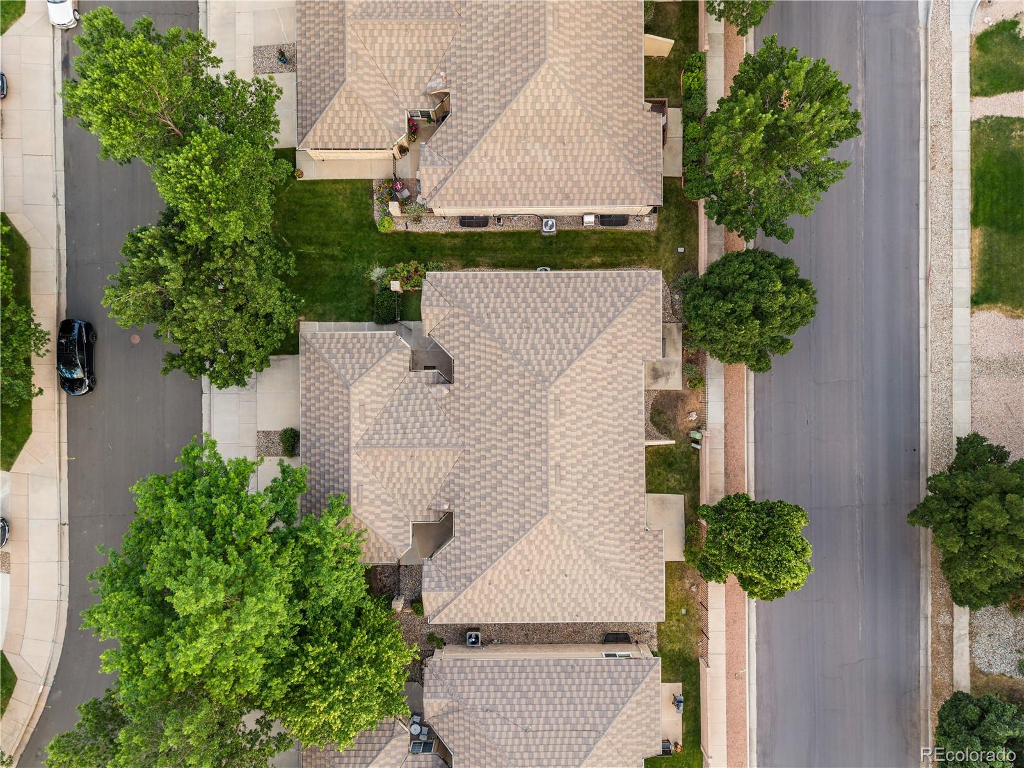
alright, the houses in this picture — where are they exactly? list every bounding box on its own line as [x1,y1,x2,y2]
[300,0,666,216]
[299,643,663,768]
[299,271,666,624]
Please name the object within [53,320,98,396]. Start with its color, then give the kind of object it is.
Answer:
black car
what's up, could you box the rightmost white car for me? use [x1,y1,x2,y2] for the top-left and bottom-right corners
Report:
[40,0,79,23]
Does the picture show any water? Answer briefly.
No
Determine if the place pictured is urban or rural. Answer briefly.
urban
